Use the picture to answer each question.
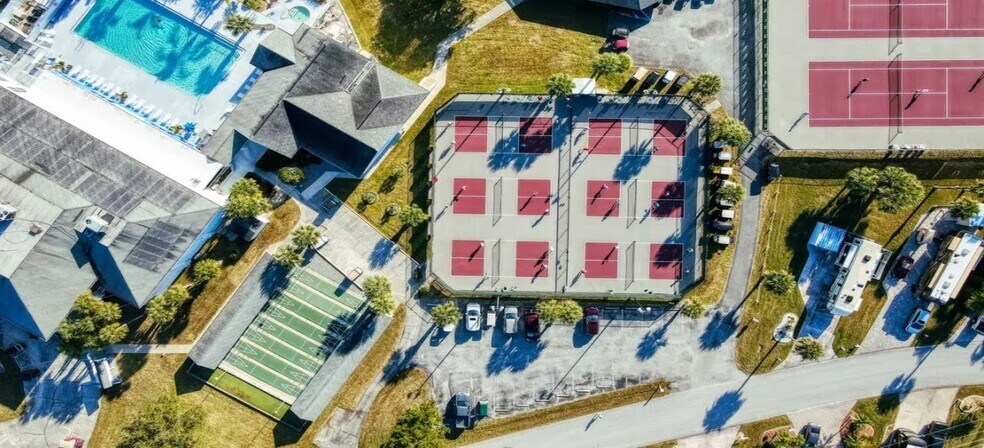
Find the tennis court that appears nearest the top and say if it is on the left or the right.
right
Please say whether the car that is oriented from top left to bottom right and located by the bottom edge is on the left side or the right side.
right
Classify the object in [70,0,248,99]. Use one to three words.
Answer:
swimming pool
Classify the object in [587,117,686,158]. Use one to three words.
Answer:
sports court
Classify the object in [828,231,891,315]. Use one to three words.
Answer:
trailer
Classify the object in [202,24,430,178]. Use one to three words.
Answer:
building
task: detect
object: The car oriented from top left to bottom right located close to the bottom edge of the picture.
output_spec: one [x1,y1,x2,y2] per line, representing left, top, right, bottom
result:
[890,420,919,448]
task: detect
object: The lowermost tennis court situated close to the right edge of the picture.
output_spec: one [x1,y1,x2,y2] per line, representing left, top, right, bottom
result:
[809,58,984,135]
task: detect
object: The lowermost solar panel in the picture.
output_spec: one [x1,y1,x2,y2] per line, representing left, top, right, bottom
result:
[125,219,188,271]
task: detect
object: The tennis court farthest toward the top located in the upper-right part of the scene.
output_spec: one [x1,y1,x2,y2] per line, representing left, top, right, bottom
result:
[809,0,984,45]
